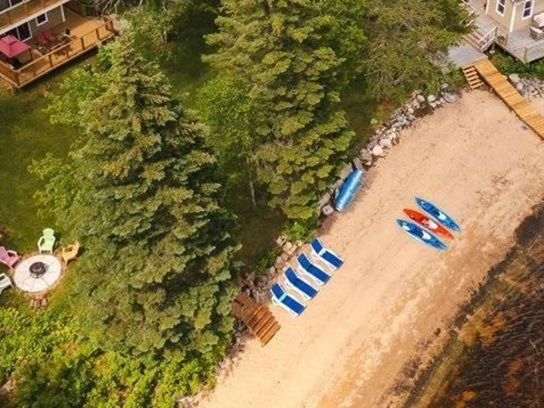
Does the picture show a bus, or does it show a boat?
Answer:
boat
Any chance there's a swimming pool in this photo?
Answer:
No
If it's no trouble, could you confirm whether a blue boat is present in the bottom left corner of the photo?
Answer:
No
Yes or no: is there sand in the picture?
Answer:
Yes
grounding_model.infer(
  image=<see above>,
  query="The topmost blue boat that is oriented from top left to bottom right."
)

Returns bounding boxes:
[415,197,461,232]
